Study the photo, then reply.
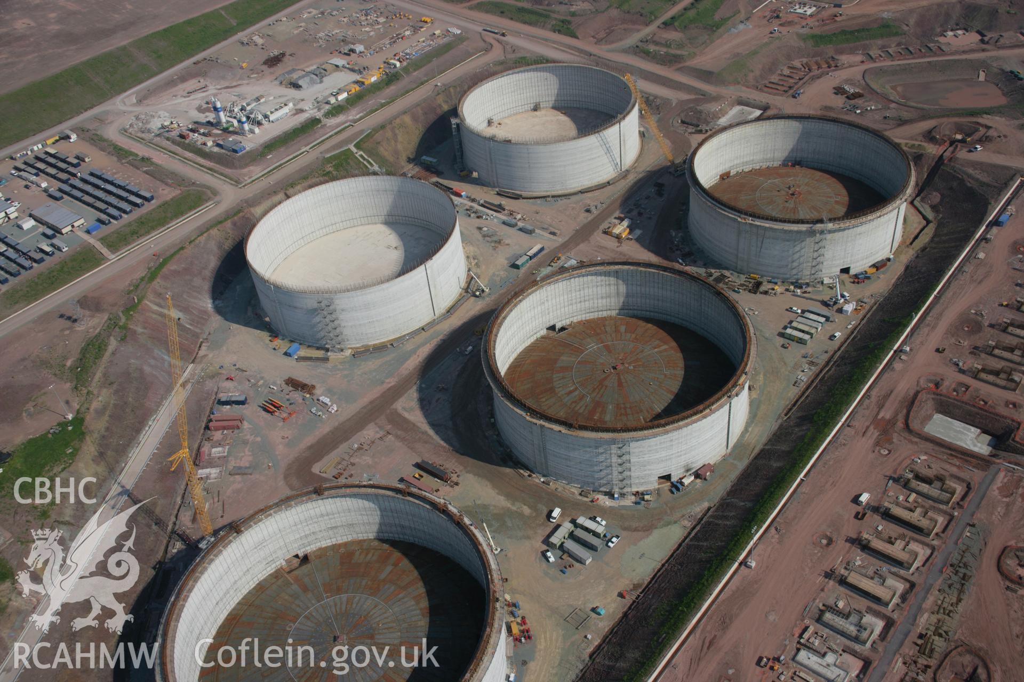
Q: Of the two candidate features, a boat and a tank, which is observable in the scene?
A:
tank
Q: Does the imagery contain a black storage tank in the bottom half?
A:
No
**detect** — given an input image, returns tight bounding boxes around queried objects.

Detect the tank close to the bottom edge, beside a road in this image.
[158,480,510,682]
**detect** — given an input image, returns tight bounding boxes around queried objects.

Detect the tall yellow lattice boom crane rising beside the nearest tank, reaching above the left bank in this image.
[166,292,229,547]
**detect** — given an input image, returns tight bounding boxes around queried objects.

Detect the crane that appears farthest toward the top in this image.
[625,73,687,174]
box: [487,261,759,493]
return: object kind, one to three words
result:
storage tank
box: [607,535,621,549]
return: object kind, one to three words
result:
vehicle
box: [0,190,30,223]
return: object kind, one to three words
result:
building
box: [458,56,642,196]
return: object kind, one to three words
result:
storage tank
